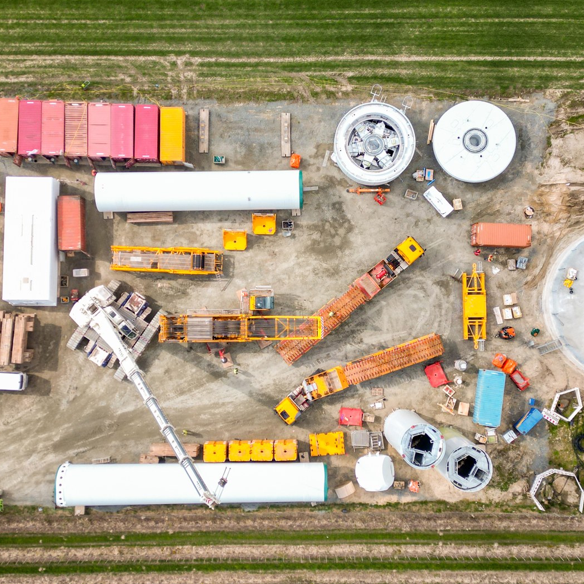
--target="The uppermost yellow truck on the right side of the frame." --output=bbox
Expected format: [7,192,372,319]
[380,233,426,287]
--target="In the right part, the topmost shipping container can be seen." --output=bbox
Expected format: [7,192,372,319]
[471,223,532,249]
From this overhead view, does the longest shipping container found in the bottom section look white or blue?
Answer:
blue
